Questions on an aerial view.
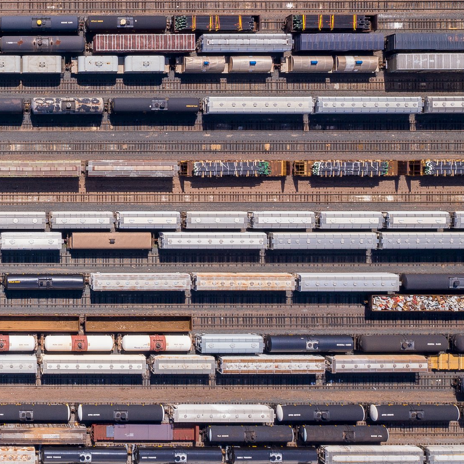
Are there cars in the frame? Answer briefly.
Yes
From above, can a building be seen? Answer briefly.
No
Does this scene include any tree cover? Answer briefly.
No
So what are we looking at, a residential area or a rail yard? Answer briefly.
rail yard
